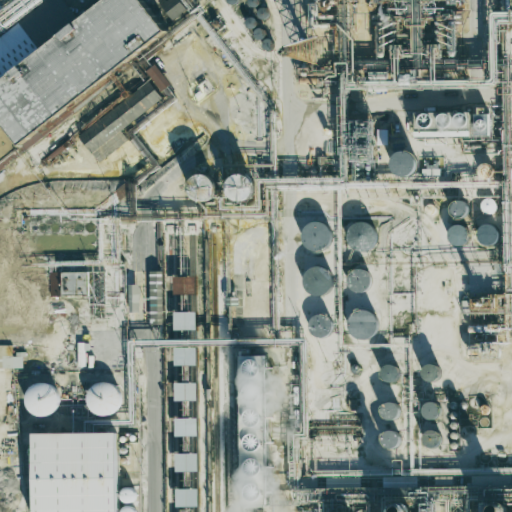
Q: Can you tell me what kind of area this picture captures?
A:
industrial area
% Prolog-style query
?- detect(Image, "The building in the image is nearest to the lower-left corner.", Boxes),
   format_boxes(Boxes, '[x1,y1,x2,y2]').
[29,434,120,512]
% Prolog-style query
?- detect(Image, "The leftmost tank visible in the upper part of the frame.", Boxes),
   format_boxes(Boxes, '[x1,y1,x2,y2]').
[186,172,217,204]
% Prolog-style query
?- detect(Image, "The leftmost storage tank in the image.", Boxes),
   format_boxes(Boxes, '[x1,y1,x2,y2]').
[23,381,62,420]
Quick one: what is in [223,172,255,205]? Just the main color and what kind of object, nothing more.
white storage tank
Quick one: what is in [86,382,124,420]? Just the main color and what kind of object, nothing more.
white storage tank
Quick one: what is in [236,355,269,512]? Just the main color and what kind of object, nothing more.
white cooling tower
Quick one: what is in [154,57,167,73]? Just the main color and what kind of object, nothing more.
white vehicle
